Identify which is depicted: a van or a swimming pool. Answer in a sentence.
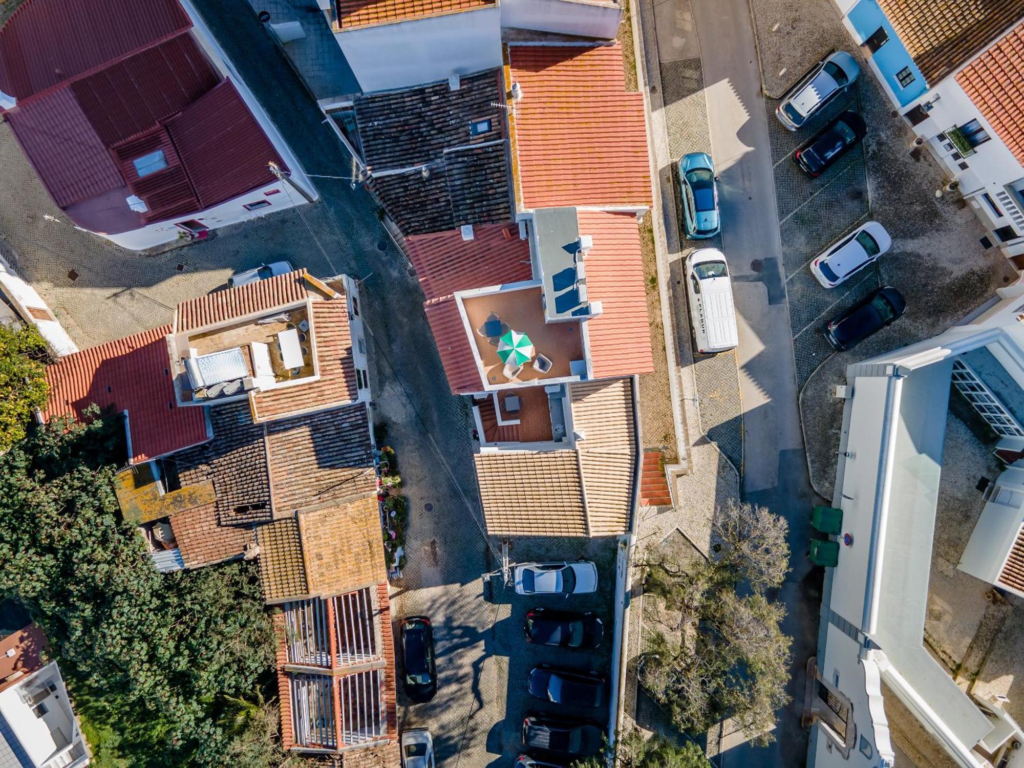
This aerial view contains a van.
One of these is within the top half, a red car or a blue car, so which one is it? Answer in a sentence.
The one visible within the top half is a blue car.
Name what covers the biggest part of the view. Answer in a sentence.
The scene is dominated by buildings.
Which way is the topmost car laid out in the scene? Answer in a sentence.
In this picture, the topmost car is oriented at an angle.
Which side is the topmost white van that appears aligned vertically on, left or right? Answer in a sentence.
It is on the right.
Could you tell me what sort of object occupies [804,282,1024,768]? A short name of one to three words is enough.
church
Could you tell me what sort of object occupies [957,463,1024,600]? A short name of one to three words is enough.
shed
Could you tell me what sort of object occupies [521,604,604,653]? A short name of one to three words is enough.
car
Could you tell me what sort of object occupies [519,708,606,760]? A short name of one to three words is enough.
truck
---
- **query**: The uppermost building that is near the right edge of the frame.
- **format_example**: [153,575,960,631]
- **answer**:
[836,0,1024,109]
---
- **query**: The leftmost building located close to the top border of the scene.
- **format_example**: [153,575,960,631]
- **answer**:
[0,0,326,253]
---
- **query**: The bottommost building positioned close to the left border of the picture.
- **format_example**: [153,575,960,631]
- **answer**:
[0,617,103,768]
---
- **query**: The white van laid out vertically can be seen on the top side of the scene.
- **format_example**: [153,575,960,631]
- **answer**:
[679,247,738,358]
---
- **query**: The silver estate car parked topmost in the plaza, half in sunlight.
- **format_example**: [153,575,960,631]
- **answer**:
[766,49,861,141]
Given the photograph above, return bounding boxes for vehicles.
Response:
[766,49,861,141]
[521,604,604,653]
[223,257,301,291]
[397,613,442,701]
[815,284,906,357]
[672,154,722,242]
[802,218,890,295]
[512,556,599,601]
[519,708,606,760]
[679,247,738,358]
[785,111,866,186]
[526,661,608,711]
